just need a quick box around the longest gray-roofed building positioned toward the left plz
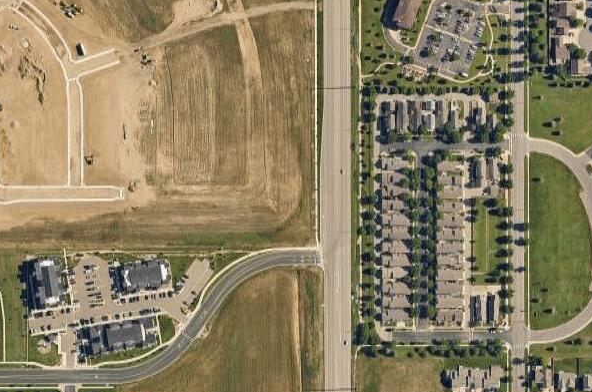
[77,319,150,356]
